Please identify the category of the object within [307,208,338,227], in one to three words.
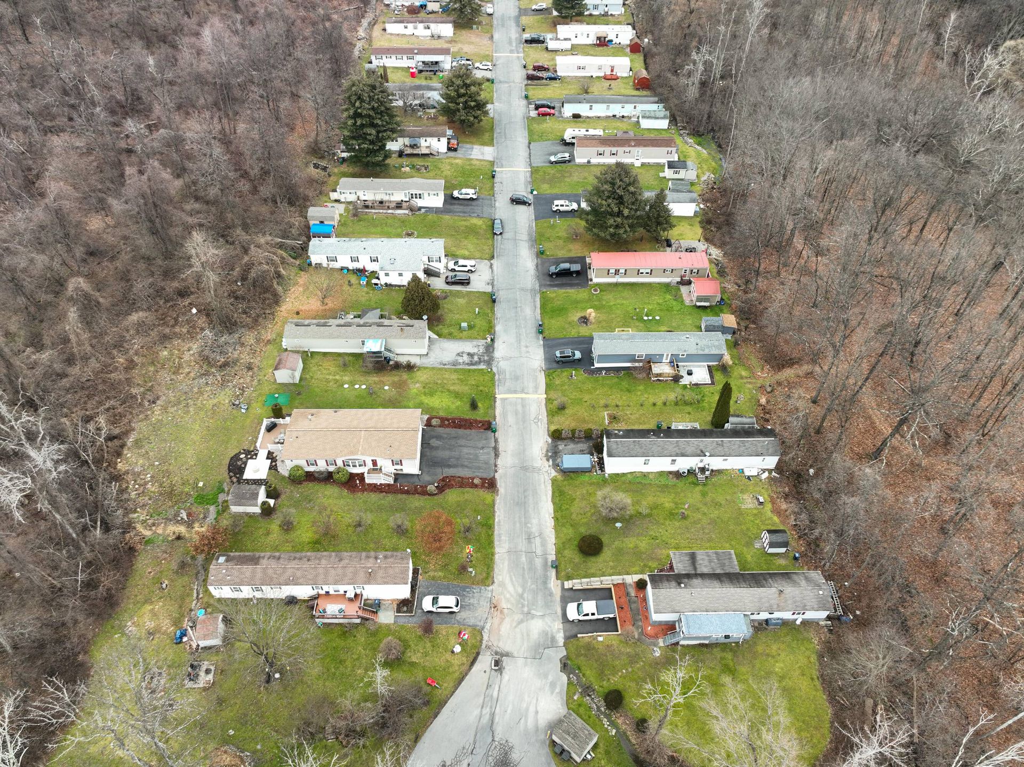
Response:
shed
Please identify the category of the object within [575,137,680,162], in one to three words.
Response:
house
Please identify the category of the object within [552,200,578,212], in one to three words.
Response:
vehicle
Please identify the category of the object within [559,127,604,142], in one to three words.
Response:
vehicle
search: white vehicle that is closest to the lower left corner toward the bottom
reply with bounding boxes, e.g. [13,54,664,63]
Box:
[422,593,461,613]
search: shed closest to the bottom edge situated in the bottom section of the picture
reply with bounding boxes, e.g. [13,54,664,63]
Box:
[552,709,600,764]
